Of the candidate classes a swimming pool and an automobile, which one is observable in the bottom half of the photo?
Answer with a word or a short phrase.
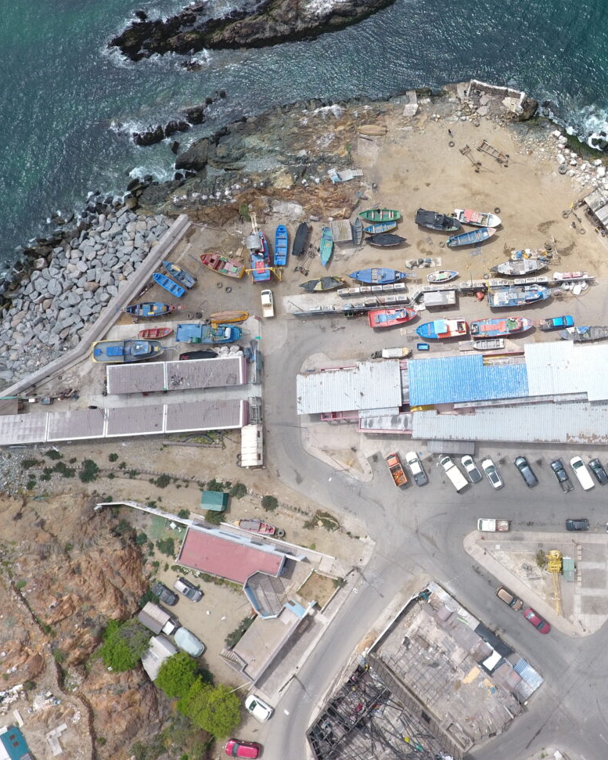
automobile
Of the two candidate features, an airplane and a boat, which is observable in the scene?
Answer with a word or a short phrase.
boat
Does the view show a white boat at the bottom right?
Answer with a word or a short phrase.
No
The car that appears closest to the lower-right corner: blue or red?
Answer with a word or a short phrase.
red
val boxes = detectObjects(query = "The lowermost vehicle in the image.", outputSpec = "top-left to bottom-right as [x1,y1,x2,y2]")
[224,739,263,760]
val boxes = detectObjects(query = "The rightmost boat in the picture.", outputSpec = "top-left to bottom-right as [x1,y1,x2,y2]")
[560,324,608,342]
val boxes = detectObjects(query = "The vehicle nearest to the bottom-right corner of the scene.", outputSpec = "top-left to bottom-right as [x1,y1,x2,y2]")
[522,606,552,634]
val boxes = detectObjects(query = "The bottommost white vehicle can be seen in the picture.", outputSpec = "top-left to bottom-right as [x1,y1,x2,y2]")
[243,692,276,724]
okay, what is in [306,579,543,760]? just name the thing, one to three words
building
